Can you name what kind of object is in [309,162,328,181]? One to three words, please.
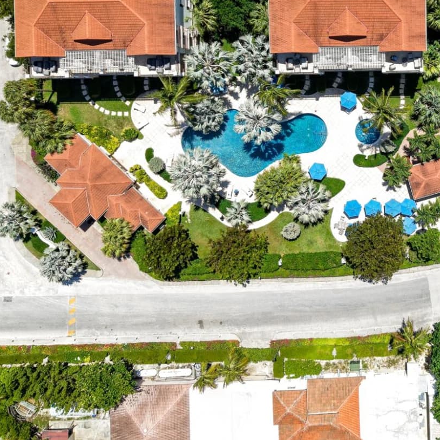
umbrella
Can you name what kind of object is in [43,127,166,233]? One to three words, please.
building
